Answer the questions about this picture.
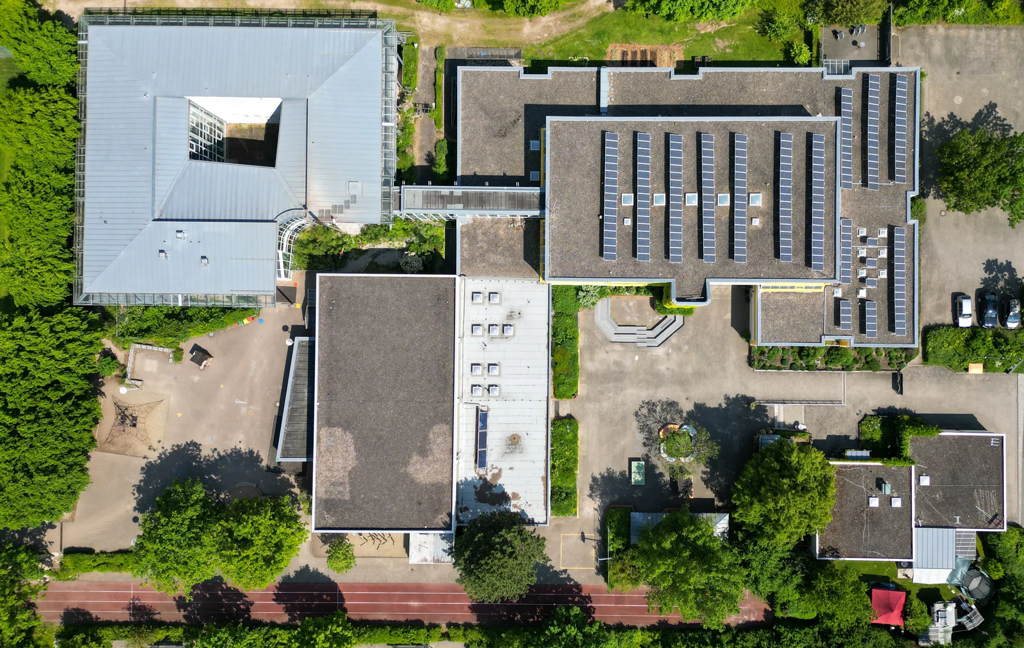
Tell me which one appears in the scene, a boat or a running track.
running track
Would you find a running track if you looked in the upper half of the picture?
No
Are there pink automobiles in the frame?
No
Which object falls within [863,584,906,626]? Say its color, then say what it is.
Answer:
red gazebo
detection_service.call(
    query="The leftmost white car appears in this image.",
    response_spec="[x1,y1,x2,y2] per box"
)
[954,294,974,327]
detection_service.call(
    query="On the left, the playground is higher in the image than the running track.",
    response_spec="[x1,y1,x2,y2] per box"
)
[39,274,451,584]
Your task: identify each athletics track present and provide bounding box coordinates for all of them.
[31,582,774,628]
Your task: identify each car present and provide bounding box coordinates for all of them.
[978,292,1000,328]
[1001,297,1023,329]
[954,294,974,327]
